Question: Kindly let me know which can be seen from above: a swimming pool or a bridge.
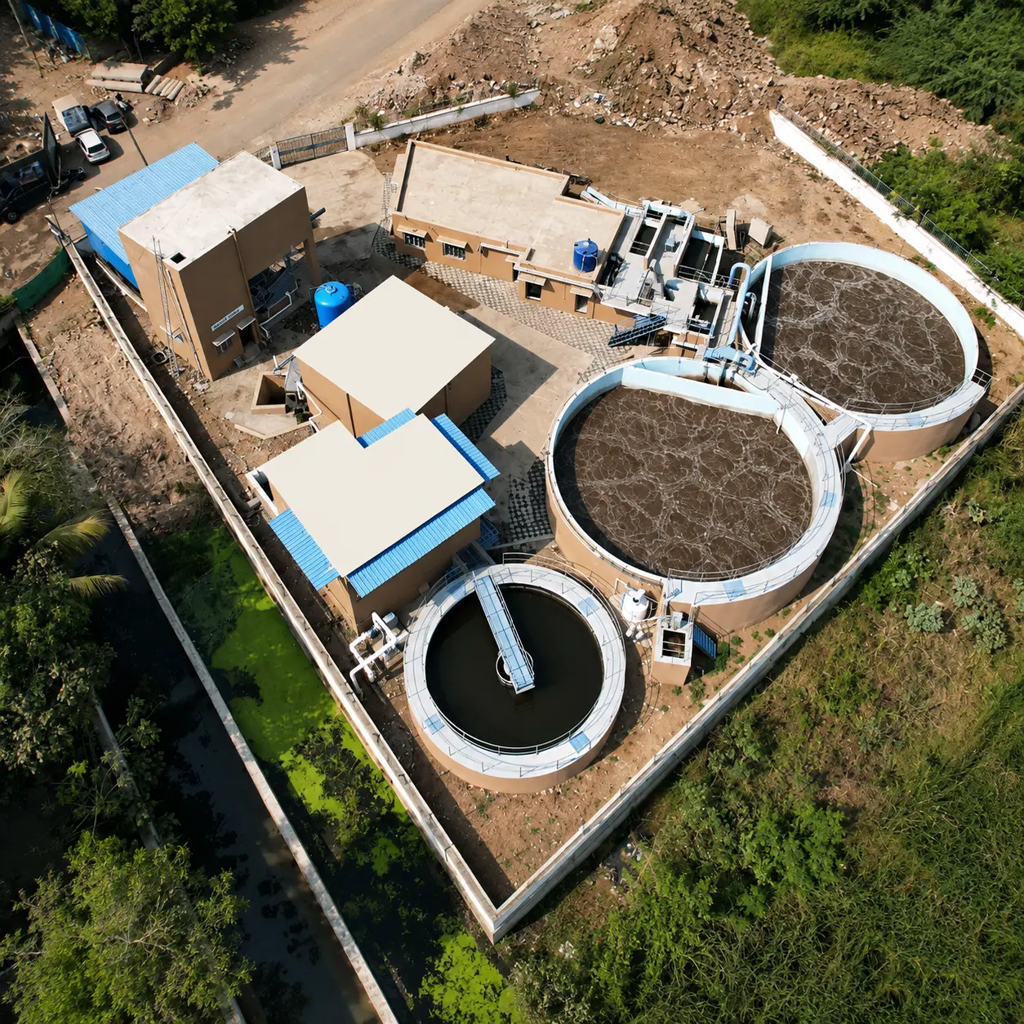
bridge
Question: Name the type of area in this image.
industrial area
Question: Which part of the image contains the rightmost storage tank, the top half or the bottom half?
top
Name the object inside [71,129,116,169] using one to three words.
car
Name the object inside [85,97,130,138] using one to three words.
car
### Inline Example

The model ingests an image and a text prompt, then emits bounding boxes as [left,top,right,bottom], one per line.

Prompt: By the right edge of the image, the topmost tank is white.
[727,232,992,467]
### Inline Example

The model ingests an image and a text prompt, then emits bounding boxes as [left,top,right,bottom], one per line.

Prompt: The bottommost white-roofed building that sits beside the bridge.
[259,412,500,629]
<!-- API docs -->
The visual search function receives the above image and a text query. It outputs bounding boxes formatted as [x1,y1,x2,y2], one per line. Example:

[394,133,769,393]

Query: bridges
[479,571,535,691]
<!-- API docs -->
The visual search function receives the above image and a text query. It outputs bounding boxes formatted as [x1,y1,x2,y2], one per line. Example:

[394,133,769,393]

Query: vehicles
[47,87,94,139]
[71,129,116,169]
[112,91,126,113]
[0,158,69,219]
[85,97,130,138]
